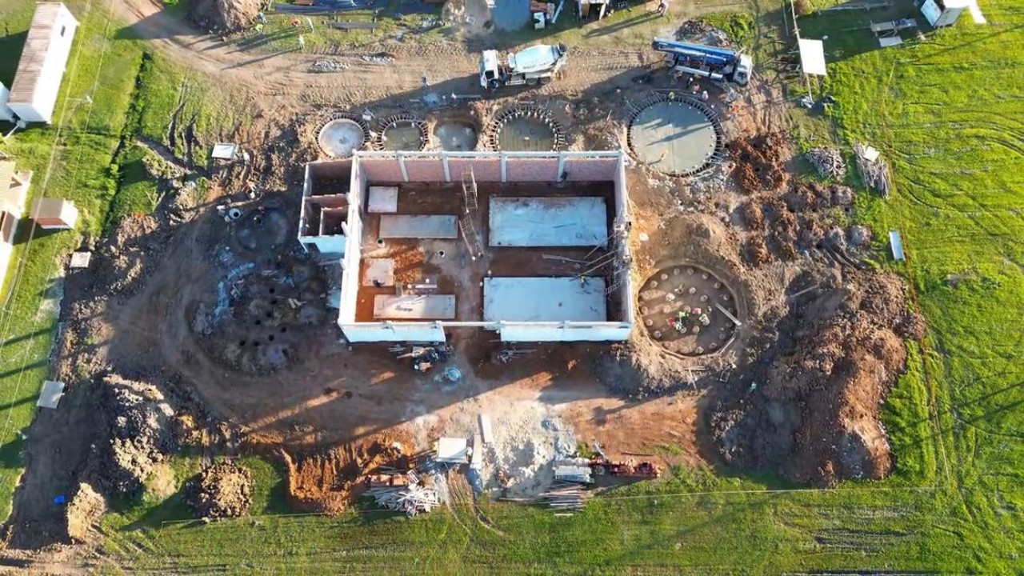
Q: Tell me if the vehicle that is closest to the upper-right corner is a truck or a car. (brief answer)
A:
truck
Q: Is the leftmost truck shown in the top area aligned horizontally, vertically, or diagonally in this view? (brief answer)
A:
horizontally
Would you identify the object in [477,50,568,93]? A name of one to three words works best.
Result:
truck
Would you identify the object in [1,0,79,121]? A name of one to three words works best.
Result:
house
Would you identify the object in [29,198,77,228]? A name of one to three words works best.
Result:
shed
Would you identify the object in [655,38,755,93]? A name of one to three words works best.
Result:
truck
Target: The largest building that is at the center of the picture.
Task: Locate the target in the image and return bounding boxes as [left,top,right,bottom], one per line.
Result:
[299,152,631,340]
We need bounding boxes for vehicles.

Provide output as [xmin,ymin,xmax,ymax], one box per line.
[477,50,568,93]
[655,38,755,93]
